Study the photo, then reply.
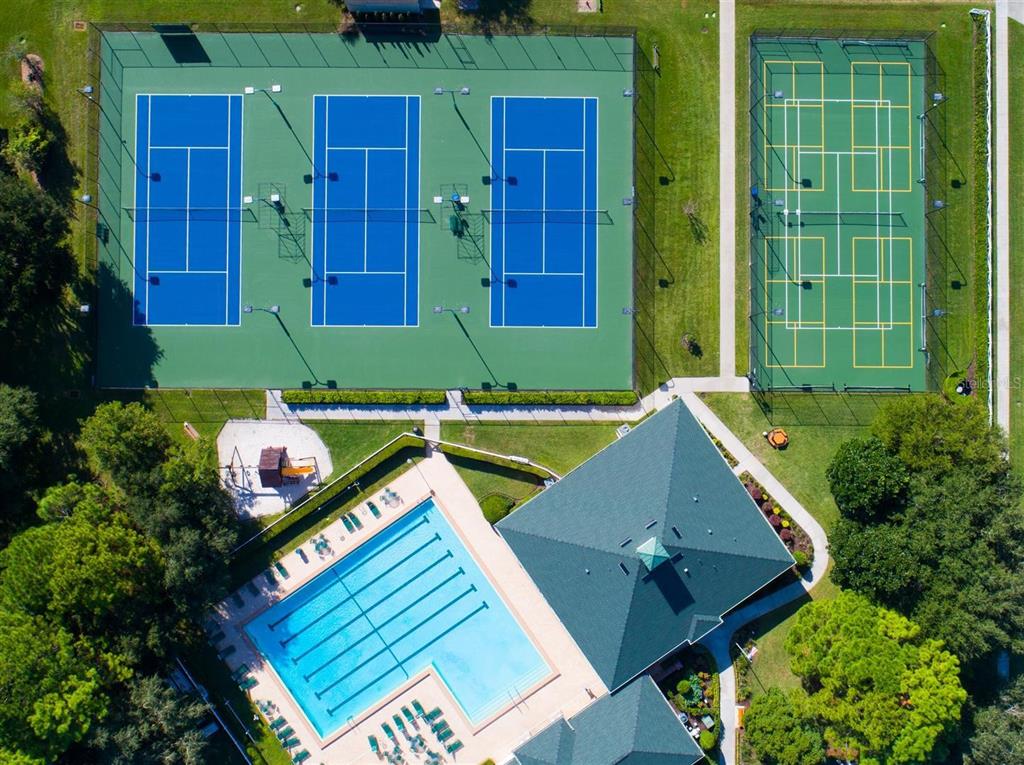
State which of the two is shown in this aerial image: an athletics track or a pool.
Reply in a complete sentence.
This aerial view contains a pool.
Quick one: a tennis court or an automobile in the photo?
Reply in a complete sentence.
Visible in the photo is a tennis court.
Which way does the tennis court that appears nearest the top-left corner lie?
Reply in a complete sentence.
In this picture, the tennis court that appears nearest the top-left corner is oriented up and down.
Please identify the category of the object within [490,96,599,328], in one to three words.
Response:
tennis court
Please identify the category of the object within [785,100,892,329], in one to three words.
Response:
tennis court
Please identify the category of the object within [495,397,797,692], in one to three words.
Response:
building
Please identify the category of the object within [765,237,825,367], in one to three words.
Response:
sports court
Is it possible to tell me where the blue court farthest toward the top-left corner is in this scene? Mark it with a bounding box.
[132,94,243,326]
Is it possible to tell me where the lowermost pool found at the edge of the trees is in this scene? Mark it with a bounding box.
[232,490,563,750]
